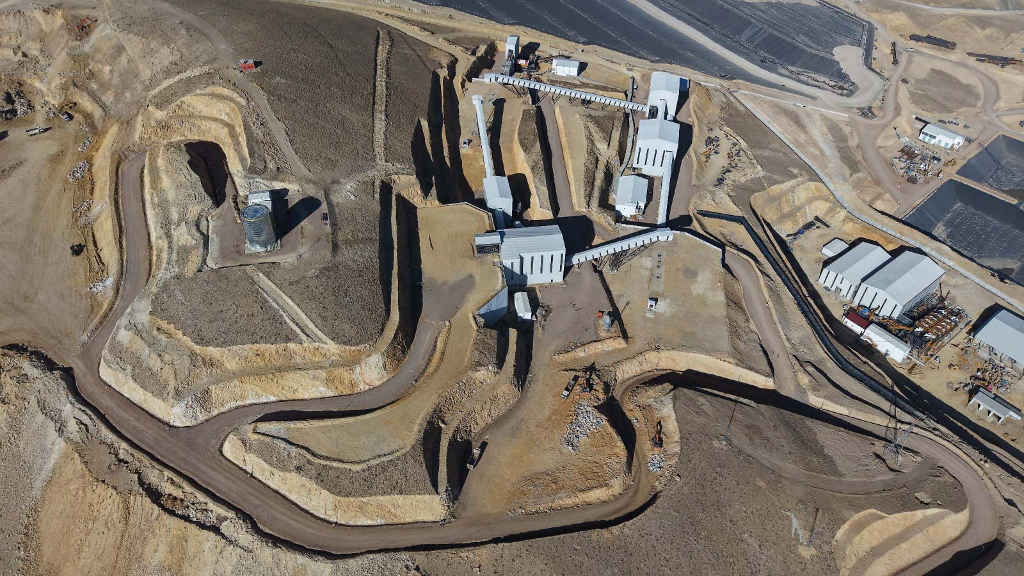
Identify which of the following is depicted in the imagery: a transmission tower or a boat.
transmission tower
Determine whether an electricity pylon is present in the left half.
No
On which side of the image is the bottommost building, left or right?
right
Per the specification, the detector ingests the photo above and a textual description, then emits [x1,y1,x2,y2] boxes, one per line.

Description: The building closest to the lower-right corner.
[967,390,1024,428]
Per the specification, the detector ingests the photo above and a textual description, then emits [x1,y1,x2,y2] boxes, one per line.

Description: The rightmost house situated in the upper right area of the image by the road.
[921,122,969,153]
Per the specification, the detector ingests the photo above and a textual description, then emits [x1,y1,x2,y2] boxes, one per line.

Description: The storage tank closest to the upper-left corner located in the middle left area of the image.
[236,204,280,258]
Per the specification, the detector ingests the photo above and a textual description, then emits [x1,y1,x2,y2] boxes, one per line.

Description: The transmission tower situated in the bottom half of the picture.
[877,419,919,467]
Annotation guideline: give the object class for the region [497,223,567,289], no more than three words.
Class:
house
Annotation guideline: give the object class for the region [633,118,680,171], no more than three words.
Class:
house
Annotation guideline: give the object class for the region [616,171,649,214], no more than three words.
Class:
shed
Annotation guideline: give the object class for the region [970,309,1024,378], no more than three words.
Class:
building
